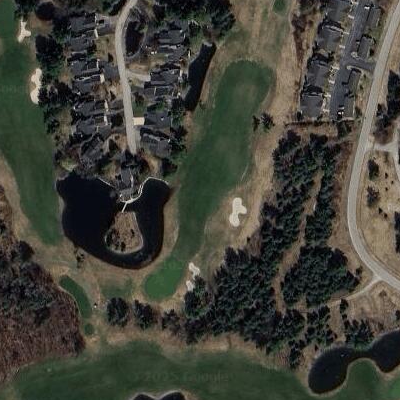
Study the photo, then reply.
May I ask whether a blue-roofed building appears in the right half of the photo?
No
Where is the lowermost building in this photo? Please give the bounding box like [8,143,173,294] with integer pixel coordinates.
[117,157,138,197]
